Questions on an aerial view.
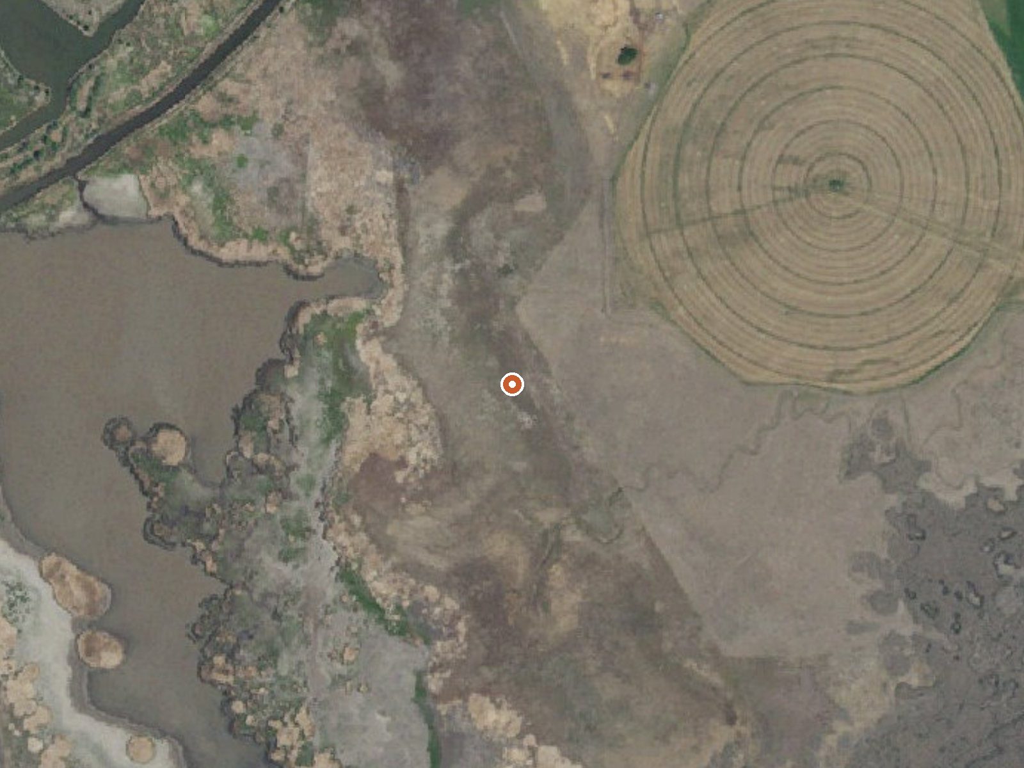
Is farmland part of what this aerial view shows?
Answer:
Yes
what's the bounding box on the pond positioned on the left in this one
[0,0,145,152]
